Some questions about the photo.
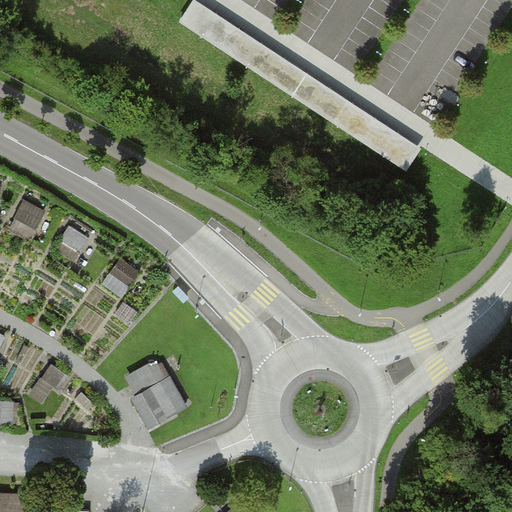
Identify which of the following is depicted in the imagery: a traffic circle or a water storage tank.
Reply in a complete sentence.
The image shows a traffic circle.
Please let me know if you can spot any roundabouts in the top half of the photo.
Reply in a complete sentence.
No, there is no roundabout in the top half of the photo.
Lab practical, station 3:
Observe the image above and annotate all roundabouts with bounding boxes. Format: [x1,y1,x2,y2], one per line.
[246,336,394,482]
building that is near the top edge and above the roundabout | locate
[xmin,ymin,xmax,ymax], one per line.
[180,0,421,170]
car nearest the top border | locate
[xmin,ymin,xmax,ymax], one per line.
[454,52,476,68]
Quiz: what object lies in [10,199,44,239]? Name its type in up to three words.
shed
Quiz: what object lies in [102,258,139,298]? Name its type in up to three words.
shed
